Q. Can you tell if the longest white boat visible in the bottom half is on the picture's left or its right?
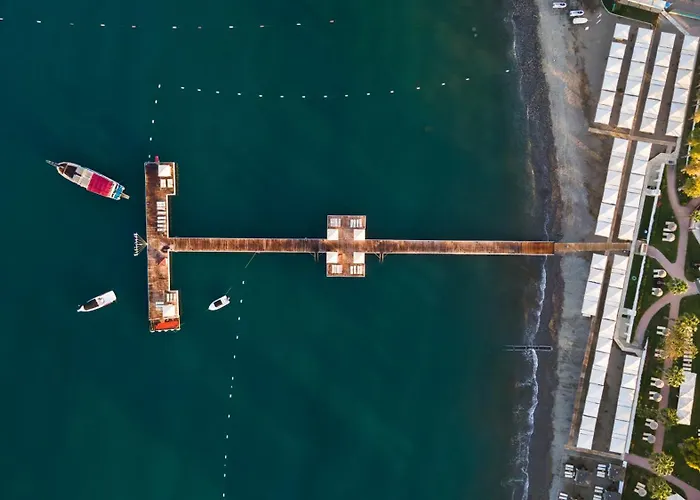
left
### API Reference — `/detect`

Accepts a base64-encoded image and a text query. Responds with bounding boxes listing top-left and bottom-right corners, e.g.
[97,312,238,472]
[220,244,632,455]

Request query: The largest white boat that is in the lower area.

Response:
[75,290,118,312]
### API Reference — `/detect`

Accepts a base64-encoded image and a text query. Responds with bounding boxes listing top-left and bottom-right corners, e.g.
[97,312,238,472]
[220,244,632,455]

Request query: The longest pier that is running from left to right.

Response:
[145,162,554,333]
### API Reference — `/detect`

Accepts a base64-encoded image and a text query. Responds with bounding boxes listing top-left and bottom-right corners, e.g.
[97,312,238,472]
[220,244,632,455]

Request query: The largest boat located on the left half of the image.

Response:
[44,159,133,200]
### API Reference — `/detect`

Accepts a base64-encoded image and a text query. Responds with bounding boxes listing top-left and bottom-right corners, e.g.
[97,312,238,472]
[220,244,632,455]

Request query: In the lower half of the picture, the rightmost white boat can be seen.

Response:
[208,295,230,311]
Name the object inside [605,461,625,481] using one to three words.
umbrella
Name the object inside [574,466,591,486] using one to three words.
umbrella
